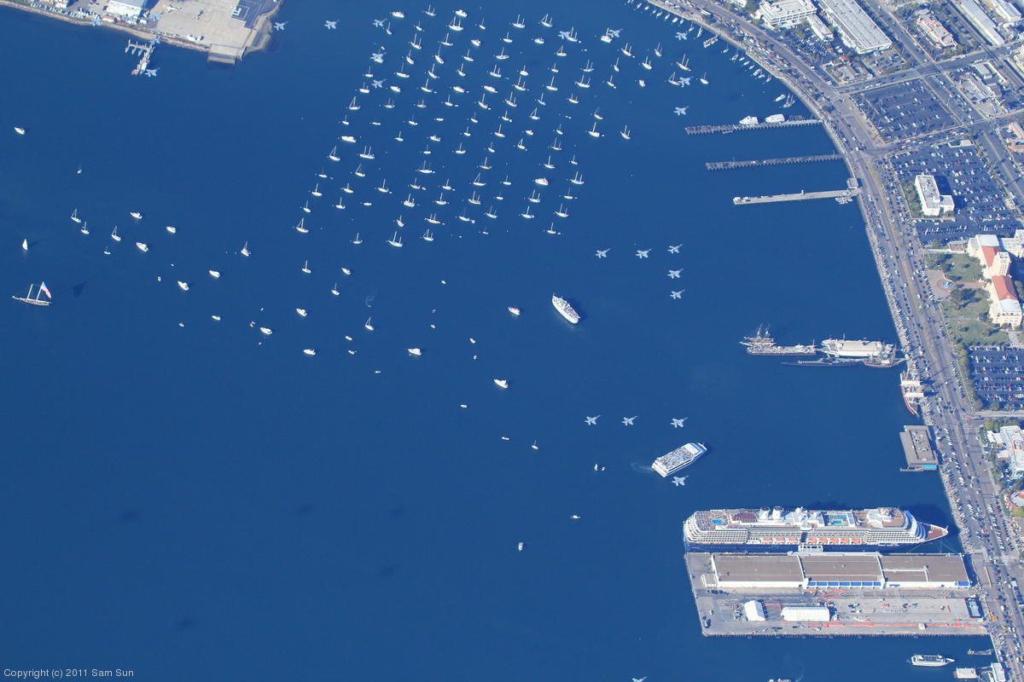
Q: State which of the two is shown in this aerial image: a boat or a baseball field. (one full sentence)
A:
There is a boat in the scene.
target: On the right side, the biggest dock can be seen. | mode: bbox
[684,552,990,638]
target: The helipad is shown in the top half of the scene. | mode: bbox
[231,3,250,20]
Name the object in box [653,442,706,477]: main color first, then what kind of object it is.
white boat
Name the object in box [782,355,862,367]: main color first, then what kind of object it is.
blue ship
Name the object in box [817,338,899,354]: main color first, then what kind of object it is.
white ship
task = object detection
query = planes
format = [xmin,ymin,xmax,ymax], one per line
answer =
[369,53,386,60]
[620,416,640,426]
[606,29,623,36]
[323,21,339,29]
[594,249,611,258]
[673,107,690,116]
[670,418,688,428]
[668,290,685,299]
[666,245,684,254]
[677,77,693,85]
[631,677,649,682]
[271,22,289,30]
[674,32,691,39]
[634,249,653,258]
[370,19,388,26]
[667,270,684,279]
[557,31,573,39]
[143,68,162,76]
[582,416,602,427]
[368,80,385,88]
[670,477,690,487]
